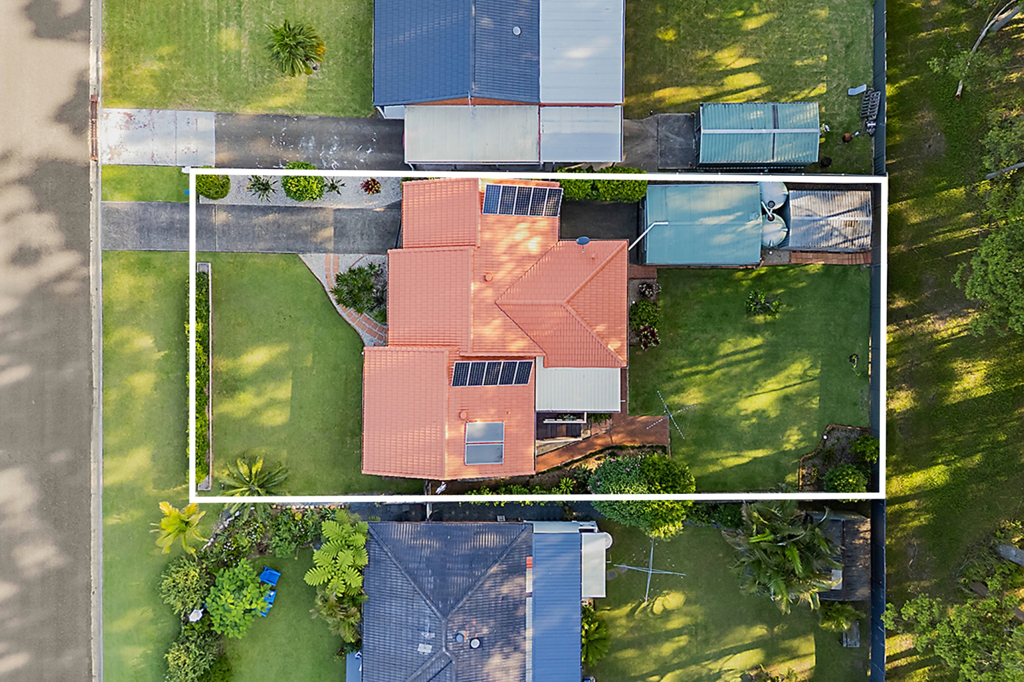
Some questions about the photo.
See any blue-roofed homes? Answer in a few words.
Yes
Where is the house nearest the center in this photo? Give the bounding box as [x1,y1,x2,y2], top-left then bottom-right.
[360,175,630,480]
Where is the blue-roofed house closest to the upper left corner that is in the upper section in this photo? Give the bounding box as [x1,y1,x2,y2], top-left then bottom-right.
[371,0,540,107]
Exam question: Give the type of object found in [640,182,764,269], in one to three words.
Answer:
shed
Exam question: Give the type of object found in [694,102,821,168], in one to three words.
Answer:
shed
